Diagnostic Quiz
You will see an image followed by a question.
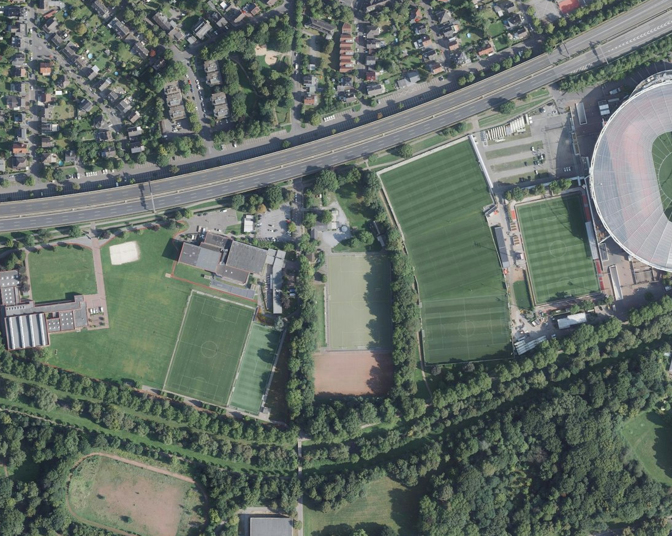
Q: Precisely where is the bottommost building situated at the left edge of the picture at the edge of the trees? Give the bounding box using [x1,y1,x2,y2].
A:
[0,270,87,351]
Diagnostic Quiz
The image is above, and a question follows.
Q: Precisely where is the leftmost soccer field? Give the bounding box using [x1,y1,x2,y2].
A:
[163,290,255,408]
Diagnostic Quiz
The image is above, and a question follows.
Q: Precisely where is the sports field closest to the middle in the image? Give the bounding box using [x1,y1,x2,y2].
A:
[325,251,392,351]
